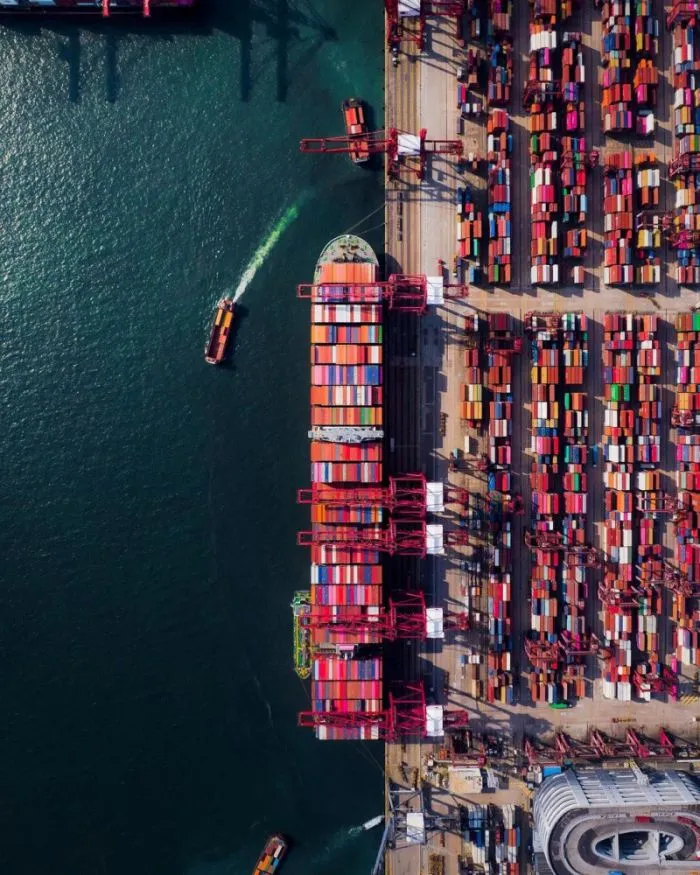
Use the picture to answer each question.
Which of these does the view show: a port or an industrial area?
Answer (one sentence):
It's a port.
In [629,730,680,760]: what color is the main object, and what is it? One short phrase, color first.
red container crane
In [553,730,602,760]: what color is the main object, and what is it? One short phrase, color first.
red container crane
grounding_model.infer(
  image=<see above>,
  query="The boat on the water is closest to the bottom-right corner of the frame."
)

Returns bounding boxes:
[362,817,382,831]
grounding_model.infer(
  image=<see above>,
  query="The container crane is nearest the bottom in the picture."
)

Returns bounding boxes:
[372,778,462,875]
